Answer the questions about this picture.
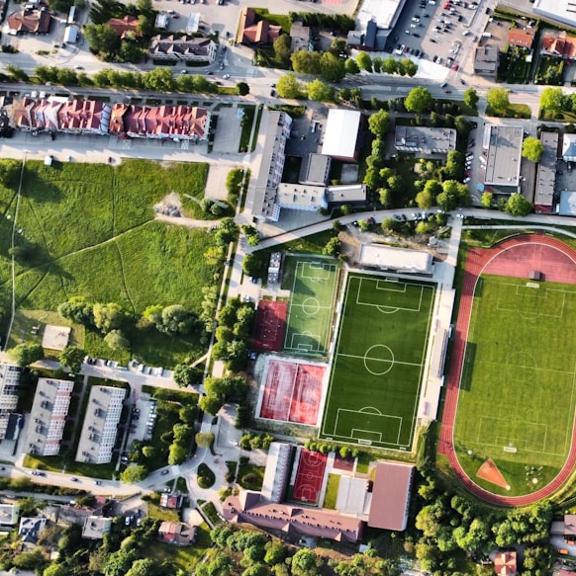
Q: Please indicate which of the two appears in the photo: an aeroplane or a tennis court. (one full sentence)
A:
There is a tennis court in the scene.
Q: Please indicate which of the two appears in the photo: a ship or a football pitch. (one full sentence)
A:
Looking from above, you can make out a football pitch.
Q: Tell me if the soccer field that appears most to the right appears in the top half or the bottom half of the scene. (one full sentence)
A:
The soccer field that appears most to the right is in the bottom half of the image.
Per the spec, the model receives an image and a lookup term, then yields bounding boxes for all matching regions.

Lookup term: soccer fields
[278,256,344,360]
[456,274,576,501]
[317,270,439,452]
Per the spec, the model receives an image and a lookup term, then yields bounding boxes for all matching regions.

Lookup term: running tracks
[442,235,576,510]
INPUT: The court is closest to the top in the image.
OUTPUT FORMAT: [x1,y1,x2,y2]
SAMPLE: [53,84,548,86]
[254,301,288,352]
